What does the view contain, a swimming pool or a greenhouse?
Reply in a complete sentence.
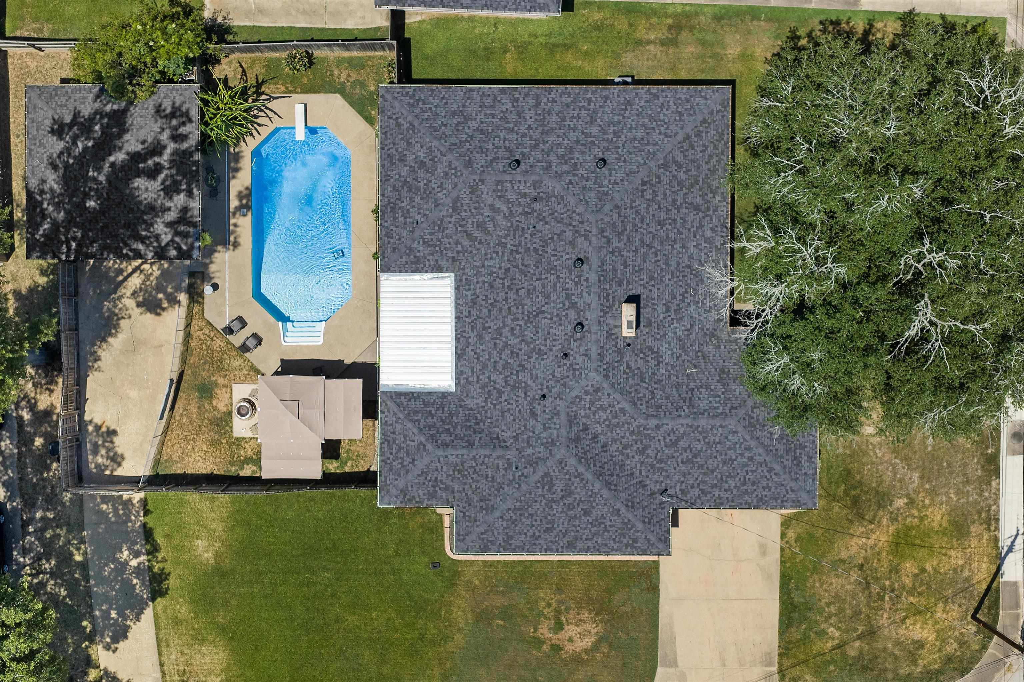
Visible in the photo is a swimming pool.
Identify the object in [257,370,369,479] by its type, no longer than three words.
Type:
gazebo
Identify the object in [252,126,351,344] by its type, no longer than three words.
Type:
swimming pool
